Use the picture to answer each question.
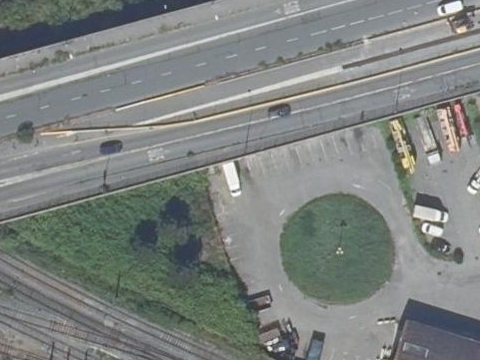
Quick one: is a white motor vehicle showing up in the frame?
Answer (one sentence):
Yes, this view includes a white motor vehicle.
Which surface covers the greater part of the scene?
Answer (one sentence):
The bulk of the photo consists of paved ground.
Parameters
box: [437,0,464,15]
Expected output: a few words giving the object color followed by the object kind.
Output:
white vehicle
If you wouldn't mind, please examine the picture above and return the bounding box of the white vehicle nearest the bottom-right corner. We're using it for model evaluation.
[420,223,444,239]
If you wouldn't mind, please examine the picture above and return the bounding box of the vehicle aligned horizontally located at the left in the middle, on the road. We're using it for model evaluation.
[99,142,123,155]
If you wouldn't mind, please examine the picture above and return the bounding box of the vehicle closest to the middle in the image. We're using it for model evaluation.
[222,162,243,198]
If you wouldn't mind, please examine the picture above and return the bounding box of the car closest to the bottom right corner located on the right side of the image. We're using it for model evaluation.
[430,239,452,253]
